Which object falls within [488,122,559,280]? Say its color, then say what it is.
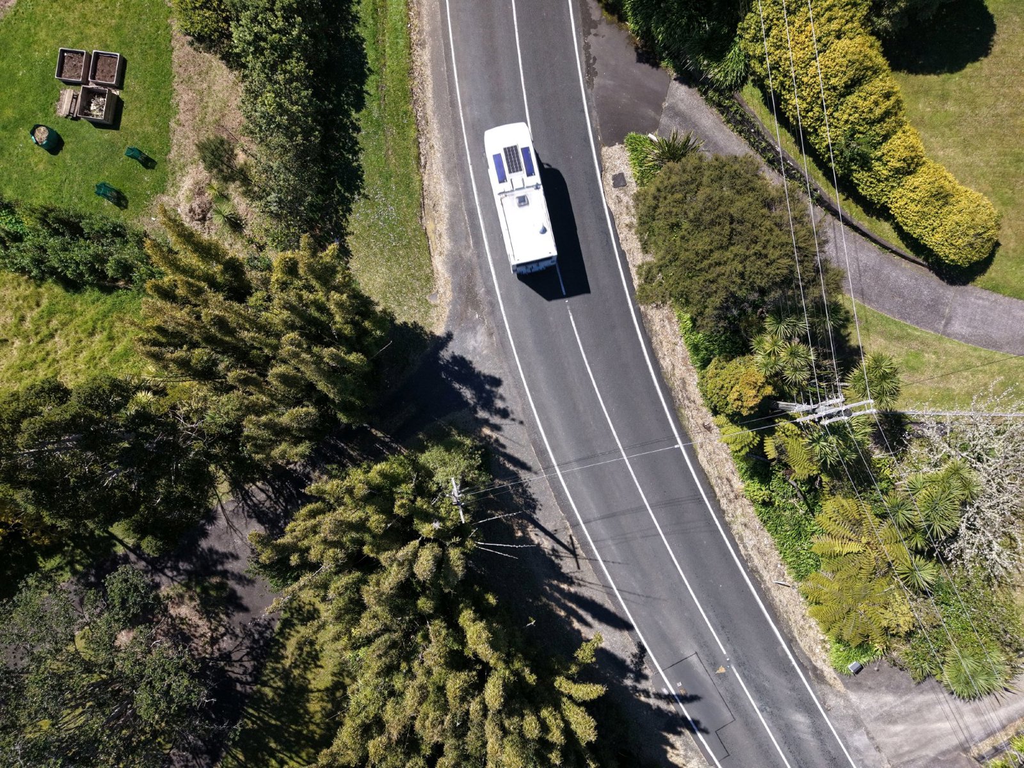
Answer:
white camper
